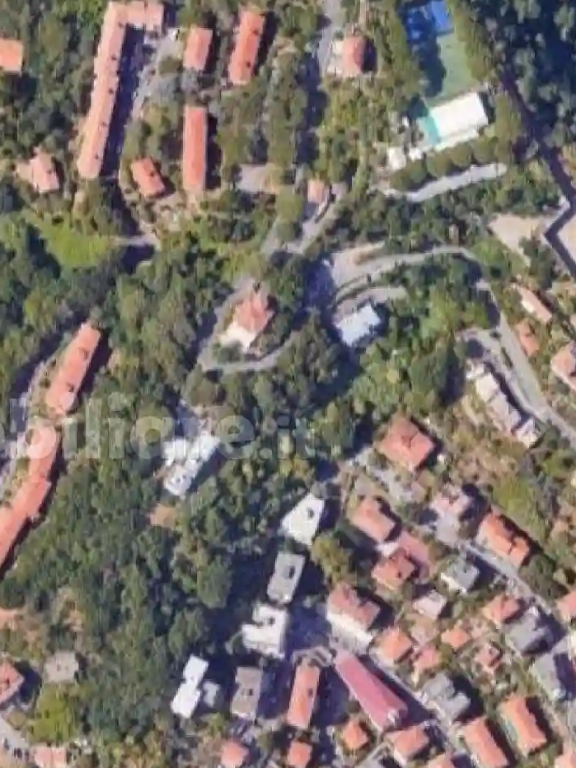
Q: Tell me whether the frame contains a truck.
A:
No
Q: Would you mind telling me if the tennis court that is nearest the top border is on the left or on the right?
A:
right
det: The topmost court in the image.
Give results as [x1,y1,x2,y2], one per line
[403,0,453,44]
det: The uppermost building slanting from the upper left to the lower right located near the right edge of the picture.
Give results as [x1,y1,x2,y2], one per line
[513,284,553,323]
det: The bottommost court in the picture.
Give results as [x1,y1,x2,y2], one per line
[408,32,480,105]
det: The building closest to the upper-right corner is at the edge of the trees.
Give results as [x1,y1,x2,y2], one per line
[424,93,489,144]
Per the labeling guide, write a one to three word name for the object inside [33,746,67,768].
house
